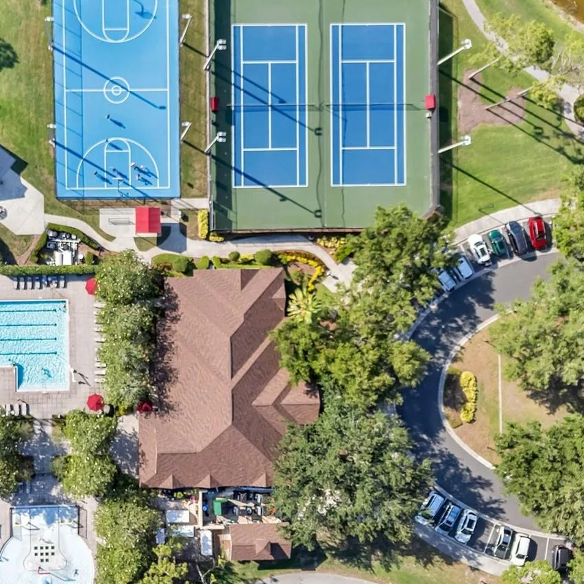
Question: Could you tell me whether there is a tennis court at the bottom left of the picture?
No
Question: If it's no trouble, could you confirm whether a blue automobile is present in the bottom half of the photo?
Yes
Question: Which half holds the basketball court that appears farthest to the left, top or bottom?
top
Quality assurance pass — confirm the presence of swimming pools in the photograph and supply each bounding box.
[0,299,71,392]
[0,506,96,584]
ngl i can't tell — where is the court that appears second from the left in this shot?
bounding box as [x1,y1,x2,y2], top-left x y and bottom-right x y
[213,0,323,229]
